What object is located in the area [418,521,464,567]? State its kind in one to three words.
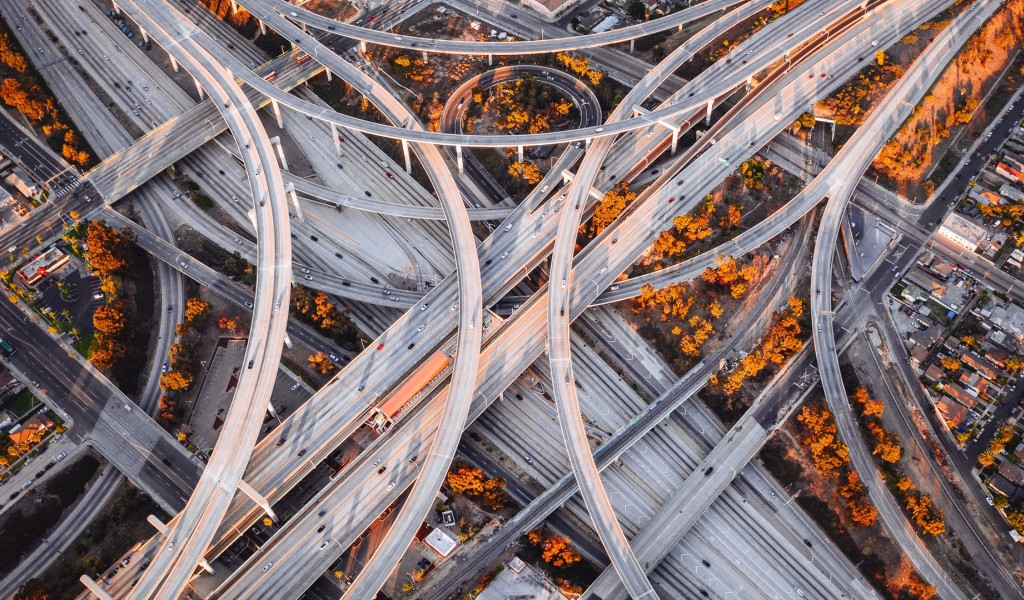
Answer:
house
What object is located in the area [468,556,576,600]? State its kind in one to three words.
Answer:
building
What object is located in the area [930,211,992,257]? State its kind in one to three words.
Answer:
building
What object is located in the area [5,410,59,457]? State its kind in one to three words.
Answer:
house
